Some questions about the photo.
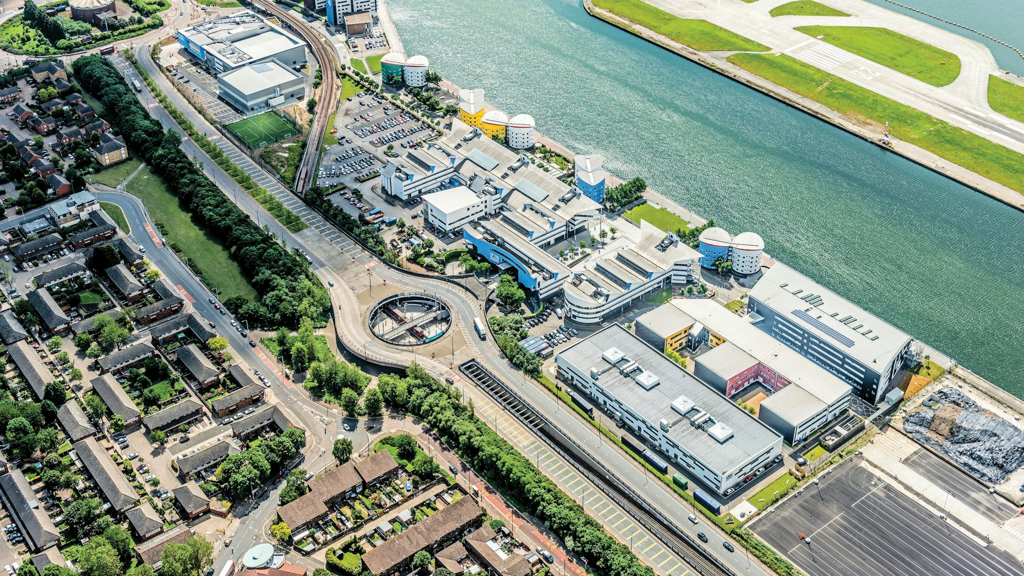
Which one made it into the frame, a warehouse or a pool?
warehouse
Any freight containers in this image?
Yes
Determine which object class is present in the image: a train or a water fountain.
train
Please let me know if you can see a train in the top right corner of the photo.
No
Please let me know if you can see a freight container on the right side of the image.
Yes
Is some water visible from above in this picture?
Yes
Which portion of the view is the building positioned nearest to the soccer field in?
top left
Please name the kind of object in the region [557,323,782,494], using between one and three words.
warehouse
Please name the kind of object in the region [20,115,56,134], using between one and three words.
house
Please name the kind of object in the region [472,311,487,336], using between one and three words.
vehicle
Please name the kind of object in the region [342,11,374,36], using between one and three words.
building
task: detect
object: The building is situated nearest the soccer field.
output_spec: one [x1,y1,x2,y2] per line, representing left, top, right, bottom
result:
[216,56,305,113]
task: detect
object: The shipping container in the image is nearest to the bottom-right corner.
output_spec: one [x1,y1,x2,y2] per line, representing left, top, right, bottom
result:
[694,488,722,514]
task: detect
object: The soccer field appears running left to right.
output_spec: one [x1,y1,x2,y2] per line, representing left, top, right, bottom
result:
[228,110,299,147]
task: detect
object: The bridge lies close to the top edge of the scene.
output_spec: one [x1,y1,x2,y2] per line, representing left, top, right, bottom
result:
[248,0,336,190]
